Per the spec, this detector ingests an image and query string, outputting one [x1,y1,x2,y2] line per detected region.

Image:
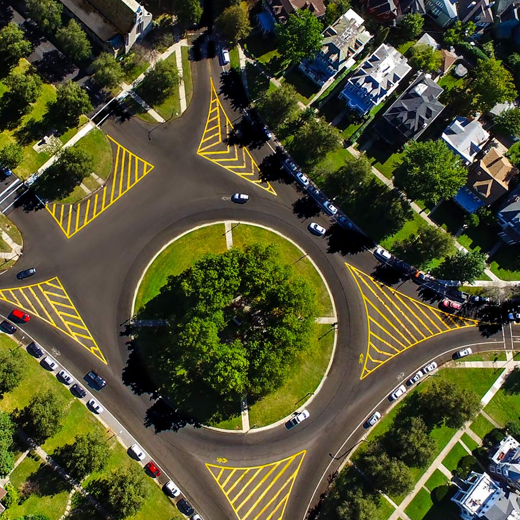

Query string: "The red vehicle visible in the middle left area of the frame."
[10,308,31,322]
